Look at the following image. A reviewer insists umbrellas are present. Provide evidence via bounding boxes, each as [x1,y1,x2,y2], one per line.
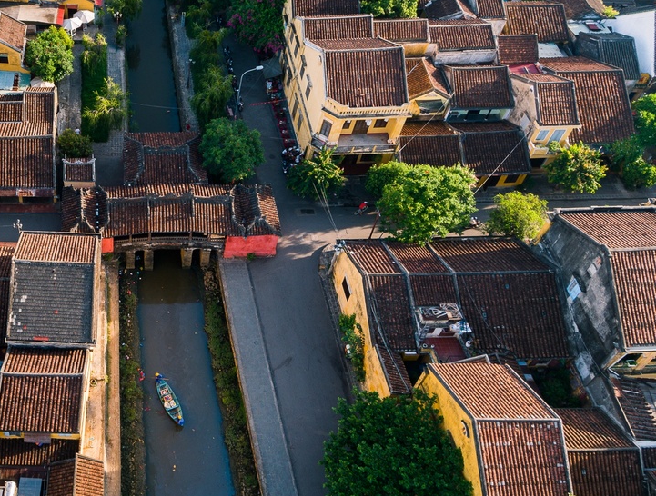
[31,80,54,86]
[73,13,95,31]
[61,22,82,41]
